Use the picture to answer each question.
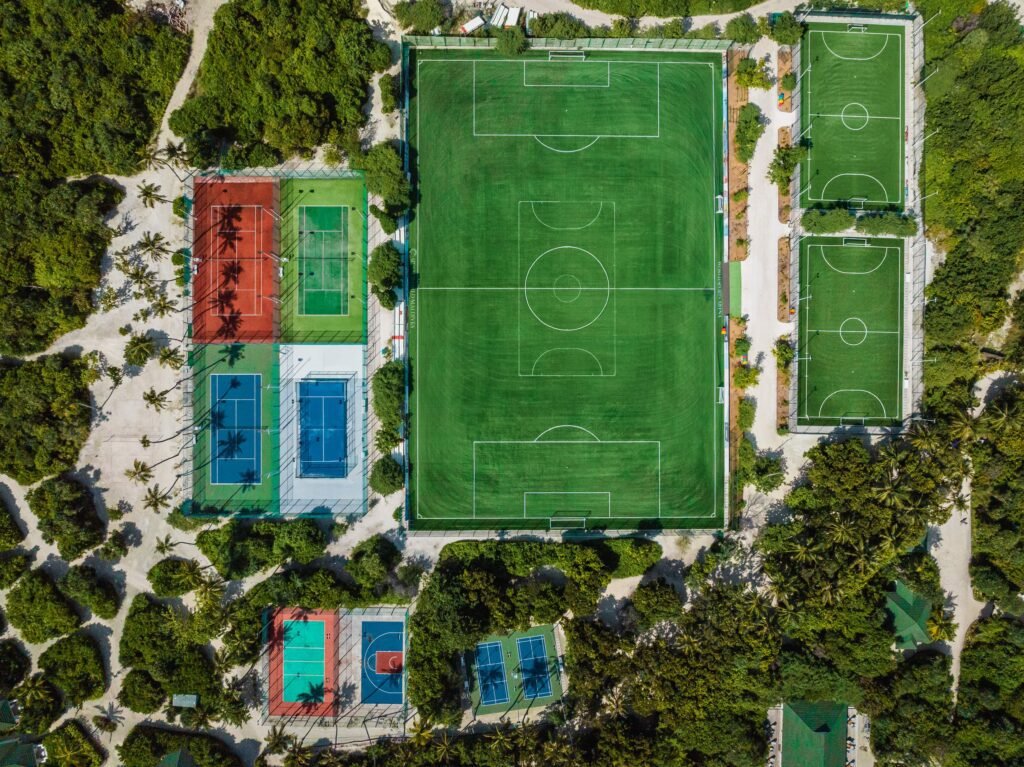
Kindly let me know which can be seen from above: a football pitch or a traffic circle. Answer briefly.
football pitch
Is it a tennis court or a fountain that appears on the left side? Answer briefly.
tennis court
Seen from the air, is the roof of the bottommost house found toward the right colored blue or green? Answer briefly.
green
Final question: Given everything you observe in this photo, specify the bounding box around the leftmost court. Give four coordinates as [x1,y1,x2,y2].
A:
[108,396,163,488]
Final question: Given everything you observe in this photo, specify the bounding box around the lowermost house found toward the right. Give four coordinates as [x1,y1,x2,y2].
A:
[780,699,847,767]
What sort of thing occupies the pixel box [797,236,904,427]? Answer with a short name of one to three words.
soccer field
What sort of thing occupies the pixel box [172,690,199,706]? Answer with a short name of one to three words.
shed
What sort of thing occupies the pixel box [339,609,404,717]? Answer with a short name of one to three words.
basketball court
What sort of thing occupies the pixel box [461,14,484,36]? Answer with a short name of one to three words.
truck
